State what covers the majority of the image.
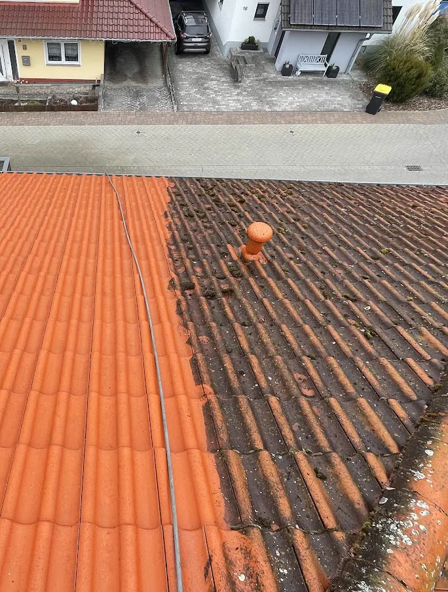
buildings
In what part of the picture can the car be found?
top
